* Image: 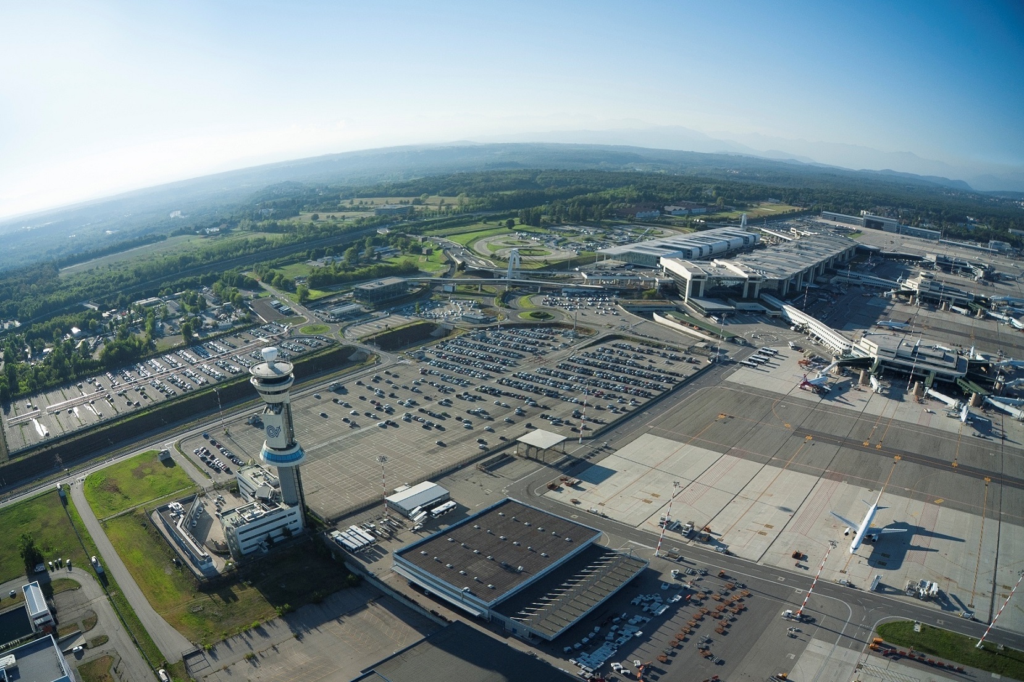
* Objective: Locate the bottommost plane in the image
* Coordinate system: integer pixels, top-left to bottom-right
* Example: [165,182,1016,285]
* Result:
[833,481,905,552]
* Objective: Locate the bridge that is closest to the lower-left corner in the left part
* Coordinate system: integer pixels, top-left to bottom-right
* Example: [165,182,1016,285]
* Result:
[332,336,409,366]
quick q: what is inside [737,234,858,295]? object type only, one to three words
building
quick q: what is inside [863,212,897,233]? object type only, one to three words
hangar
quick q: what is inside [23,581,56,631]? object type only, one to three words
building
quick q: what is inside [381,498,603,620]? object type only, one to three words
warehouse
